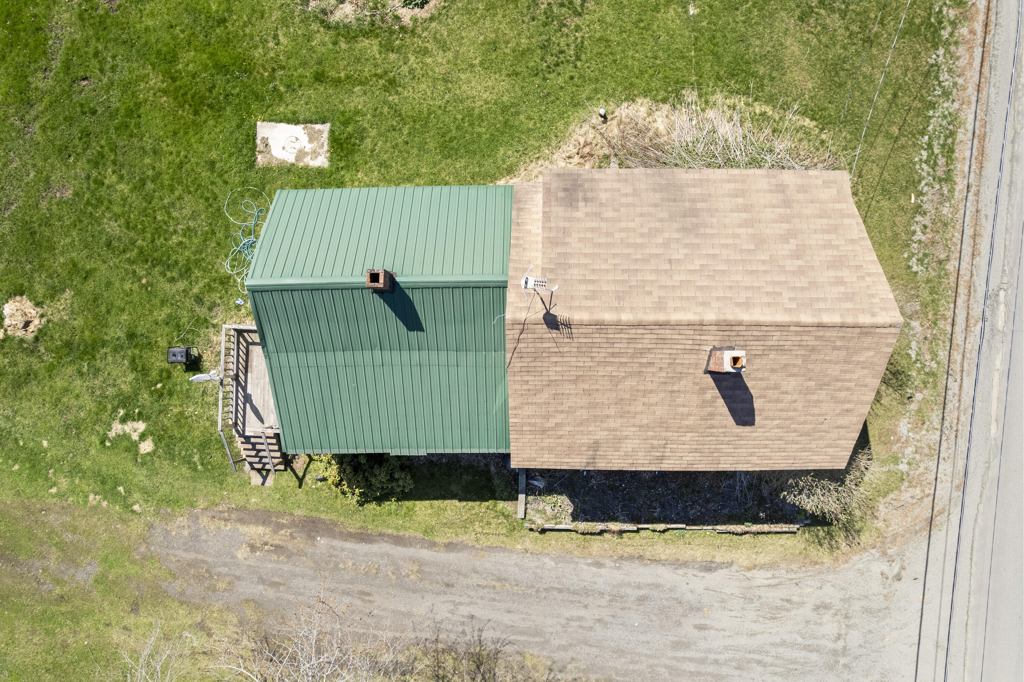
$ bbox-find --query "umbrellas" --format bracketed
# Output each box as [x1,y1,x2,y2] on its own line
[196,369,234,384]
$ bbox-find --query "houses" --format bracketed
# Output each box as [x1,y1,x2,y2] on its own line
[244,168,902,471]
